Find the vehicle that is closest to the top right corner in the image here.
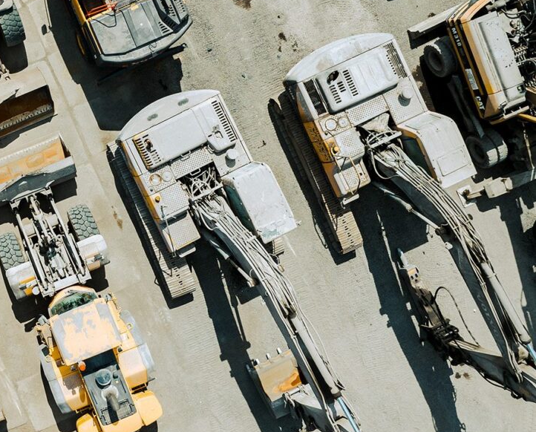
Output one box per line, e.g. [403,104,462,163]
[403,0,536,206]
